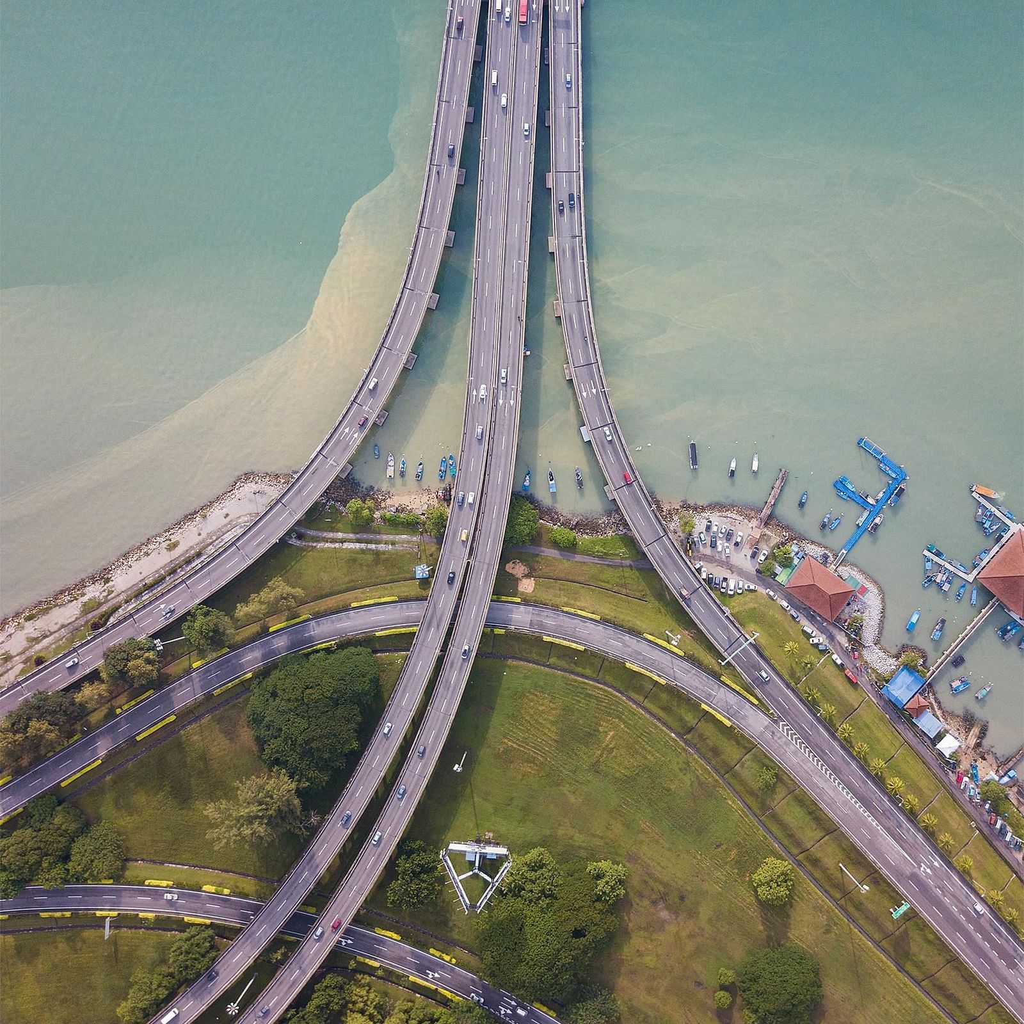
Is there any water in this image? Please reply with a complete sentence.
Yes, there's water in this view.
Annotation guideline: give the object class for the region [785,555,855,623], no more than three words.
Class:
building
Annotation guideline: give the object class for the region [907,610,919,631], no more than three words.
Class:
boat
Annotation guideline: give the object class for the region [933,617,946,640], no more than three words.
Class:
boat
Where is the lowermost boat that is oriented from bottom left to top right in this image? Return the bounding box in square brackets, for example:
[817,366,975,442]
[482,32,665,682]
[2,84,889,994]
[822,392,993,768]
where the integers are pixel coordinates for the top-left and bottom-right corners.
[1000,769,1018,783]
